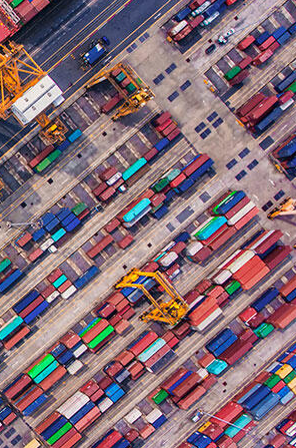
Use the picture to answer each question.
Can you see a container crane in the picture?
Yes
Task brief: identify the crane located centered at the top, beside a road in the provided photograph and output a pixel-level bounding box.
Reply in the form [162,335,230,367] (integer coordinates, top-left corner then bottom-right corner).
[85,58,156,120]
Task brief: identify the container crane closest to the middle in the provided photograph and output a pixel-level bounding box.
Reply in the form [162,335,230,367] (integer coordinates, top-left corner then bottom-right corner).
[114,269,191,327]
